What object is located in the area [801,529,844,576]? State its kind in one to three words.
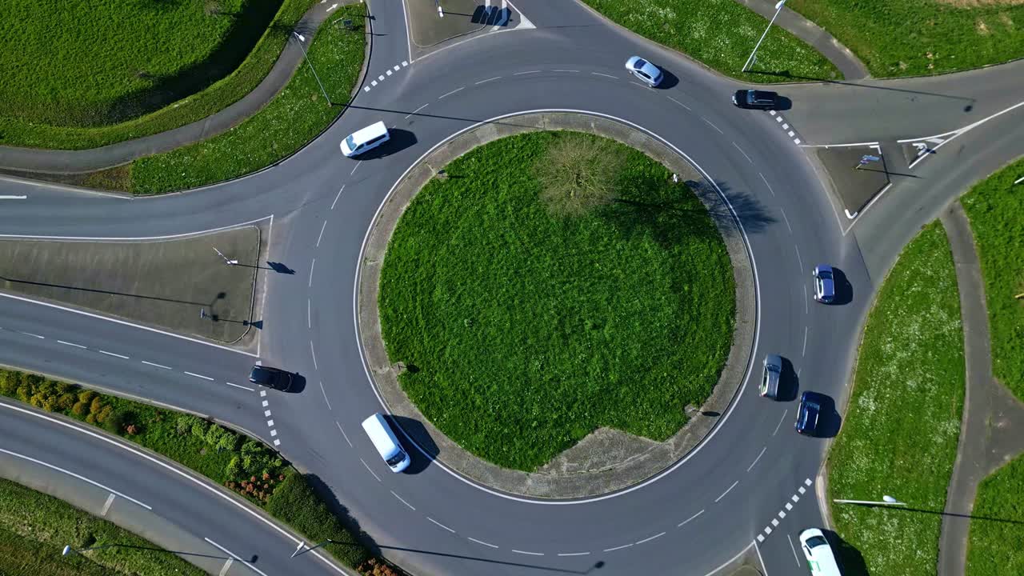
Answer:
van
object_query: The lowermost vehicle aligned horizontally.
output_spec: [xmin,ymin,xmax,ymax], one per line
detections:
[248,365,295,391]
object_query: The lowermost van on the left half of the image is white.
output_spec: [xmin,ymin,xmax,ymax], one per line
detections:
[362,413,410,472]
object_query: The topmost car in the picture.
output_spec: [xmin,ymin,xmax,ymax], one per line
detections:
[625,56,664,88]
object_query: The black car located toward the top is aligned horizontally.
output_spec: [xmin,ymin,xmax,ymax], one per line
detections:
[732,87,777,109]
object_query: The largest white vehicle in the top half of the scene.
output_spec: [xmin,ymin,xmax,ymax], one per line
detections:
[339,121,390,158]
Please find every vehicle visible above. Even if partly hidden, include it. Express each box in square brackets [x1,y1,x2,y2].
[732,87,777,109]
[625,56,664,88]
[248,365,295,391]
[759,353,785,399]
[801,529,844,576]
[339,121,390,158]
[794,390,822,436]
[813,263,837,303]
[362,413,410,472]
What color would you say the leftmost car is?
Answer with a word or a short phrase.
black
